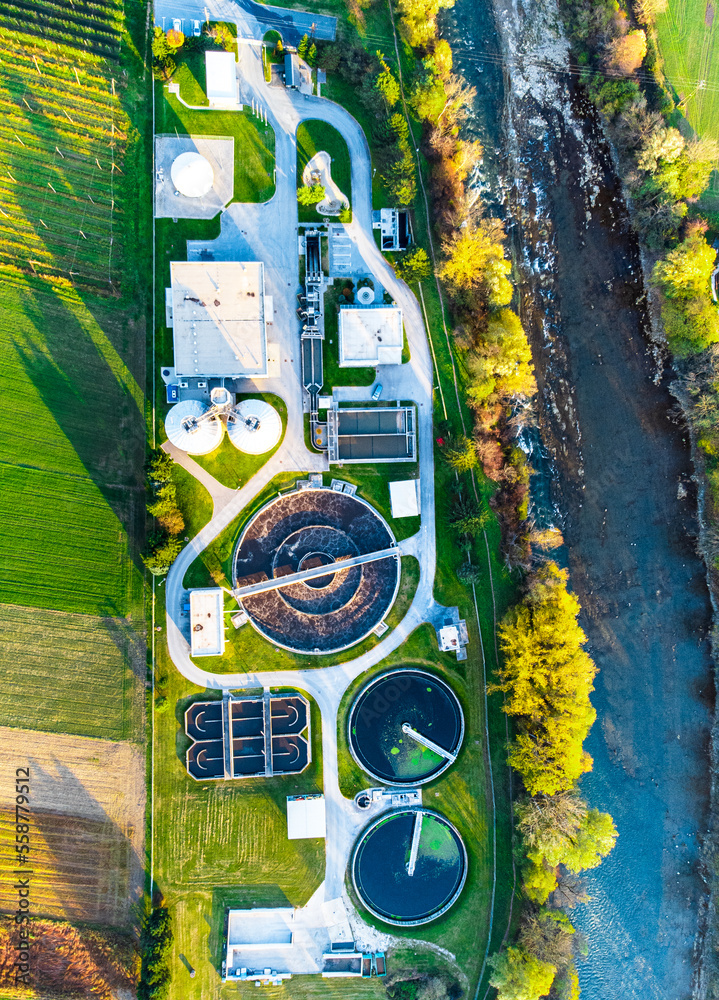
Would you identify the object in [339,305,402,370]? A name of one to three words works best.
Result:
house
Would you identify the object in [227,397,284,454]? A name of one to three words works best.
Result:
silo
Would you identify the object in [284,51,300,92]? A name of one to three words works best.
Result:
building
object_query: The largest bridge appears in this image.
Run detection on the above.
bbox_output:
[233,545,401,599]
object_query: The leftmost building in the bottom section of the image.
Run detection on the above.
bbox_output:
[190,589,231,656]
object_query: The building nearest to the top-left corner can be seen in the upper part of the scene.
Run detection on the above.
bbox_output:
[205,52,238,104]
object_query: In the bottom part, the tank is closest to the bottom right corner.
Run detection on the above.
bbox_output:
[353,810,468,926]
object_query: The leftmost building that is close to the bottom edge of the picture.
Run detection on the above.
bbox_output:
[227,906,295,979]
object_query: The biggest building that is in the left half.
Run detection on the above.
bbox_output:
[166,262,273,381]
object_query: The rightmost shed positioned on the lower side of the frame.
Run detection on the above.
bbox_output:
[439,624,459,651]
